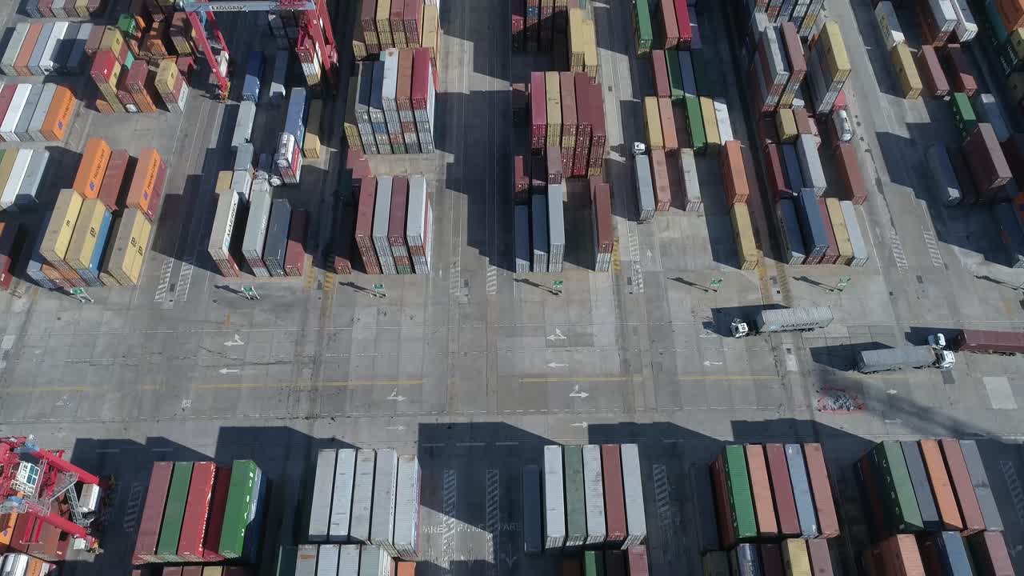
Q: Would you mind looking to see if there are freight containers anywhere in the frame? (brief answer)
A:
Yes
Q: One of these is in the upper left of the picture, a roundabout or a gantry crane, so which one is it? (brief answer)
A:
gantry crane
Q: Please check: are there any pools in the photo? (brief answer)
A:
No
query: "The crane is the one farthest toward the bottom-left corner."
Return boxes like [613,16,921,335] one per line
[0,435,108,558]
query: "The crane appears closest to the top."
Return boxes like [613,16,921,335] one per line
[170,0,342,104]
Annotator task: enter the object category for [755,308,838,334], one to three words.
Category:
shipping container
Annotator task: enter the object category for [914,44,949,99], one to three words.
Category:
shipping container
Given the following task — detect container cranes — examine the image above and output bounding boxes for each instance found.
[0,435,108,558]
[170,0,342,104]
